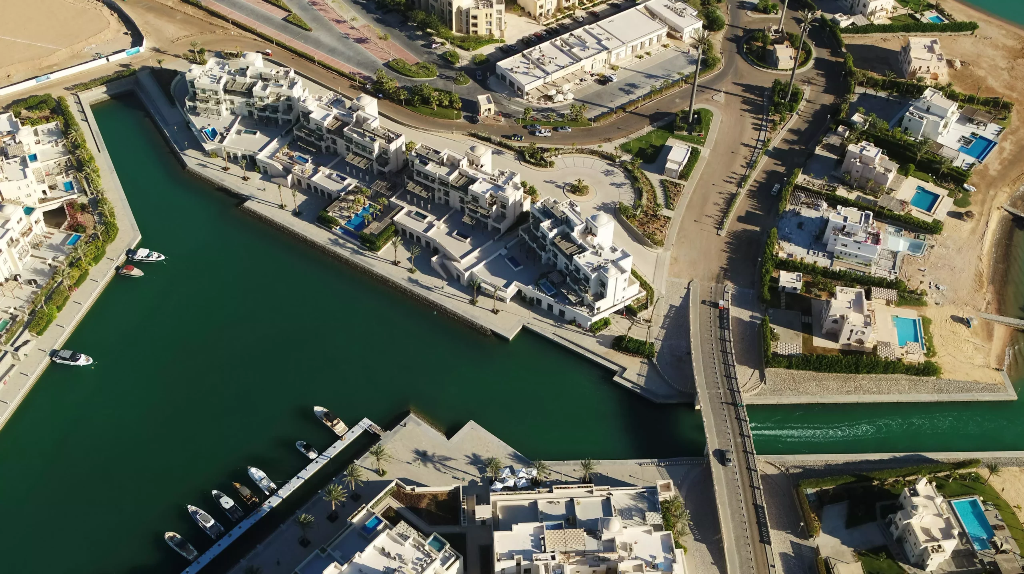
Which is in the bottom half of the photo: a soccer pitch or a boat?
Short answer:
boat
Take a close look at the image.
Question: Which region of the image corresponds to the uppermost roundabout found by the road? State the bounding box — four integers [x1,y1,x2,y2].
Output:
[740,32,817,74]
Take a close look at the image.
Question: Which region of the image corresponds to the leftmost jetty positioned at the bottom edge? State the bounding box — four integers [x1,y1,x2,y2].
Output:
[183,418,374,574]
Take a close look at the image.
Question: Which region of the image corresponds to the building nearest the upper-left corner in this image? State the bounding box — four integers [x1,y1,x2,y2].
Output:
[0,112,87,216]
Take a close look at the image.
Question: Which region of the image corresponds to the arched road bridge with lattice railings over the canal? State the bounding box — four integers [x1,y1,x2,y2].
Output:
[689,285,778,574]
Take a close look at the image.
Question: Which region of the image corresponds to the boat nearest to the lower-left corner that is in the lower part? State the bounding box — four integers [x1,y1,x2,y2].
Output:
[165,531,207,565]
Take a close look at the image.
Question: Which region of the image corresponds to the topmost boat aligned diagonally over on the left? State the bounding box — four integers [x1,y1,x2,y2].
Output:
[314,404,355,436]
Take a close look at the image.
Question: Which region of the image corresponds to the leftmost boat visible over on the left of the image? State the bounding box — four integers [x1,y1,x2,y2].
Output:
[53,351,94,365]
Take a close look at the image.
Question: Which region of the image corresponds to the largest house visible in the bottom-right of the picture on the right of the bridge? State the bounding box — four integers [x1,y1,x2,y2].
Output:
[888,478,958,570]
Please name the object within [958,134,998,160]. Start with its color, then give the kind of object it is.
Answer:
blue swimming pool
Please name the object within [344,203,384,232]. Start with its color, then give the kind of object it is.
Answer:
blue swimming pool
